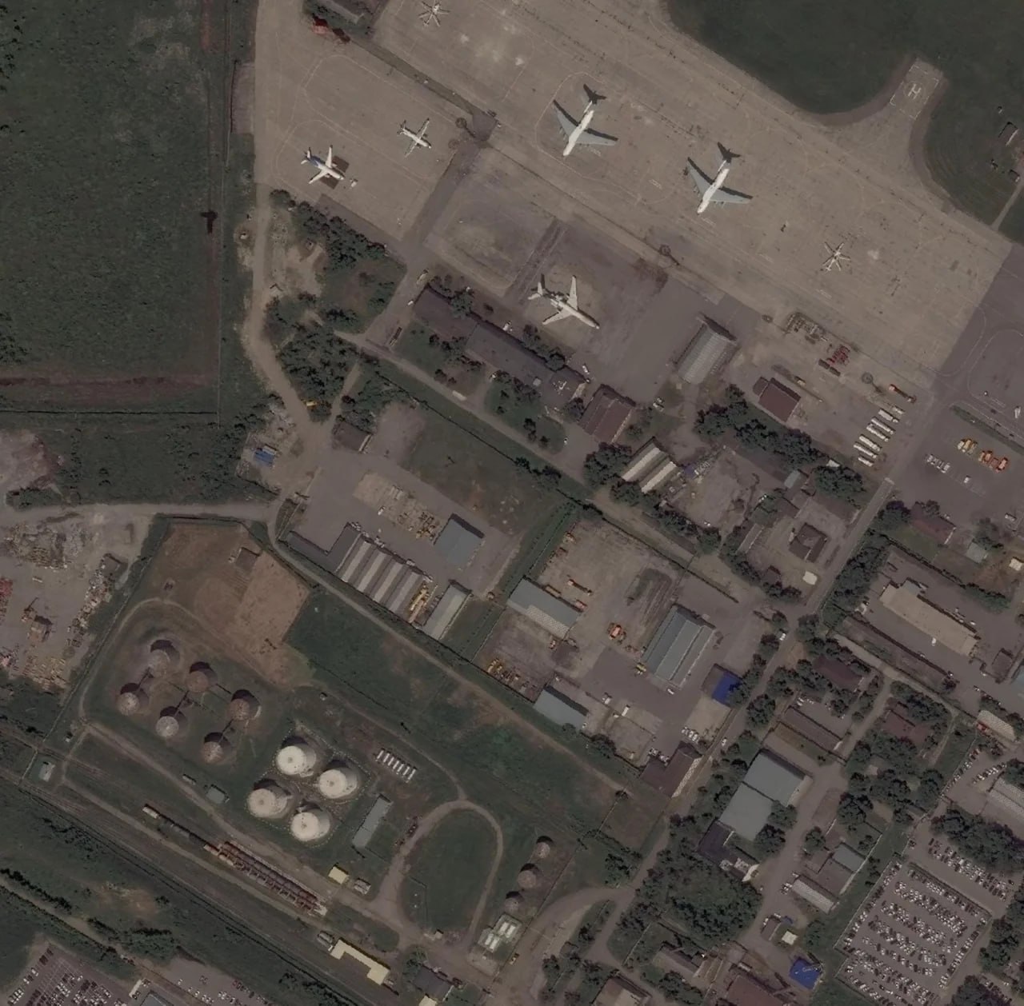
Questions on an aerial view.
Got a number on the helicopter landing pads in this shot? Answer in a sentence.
My tally gives 1 helicopter landing pad in this photo.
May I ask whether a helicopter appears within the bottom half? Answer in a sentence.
No, looking within the bottom half, there is no helicopter.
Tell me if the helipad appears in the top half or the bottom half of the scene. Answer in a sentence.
The helipad sits in the top half of the picture.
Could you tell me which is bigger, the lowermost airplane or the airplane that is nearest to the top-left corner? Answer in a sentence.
The lowermost airplane is bigger than the airplane that is nearest to the top-left corner.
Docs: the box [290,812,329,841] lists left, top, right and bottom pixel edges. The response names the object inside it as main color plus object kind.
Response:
white storage tank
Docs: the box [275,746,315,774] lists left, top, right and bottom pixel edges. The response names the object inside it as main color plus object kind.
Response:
white storage tank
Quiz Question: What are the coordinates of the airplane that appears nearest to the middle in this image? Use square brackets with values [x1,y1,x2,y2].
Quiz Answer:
[526,276,600,327]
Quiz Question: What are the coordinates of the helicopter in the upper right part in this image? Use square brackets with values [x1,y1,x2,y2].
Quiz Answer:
[821,242,850,273]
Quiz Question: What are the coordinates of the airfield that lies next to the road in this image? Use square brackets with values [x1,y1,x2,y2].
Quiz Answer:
[231,0,1024,520]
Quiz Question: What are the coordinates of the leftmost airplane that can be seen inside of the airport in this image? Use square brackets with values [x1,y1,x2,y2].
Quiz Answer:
[298,144,342,180]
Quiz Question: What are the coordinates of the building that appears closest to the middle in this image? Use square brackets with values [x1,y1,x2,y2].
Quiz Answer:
[432,518,489,567]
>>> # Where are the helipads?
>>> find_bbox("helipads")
[890,61,941,120]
